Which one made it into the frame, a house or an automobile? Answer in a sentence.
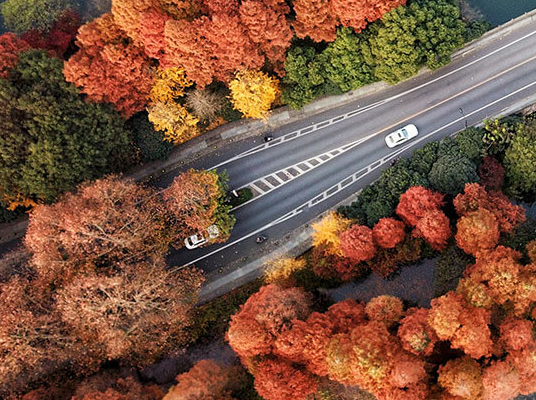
I can see an automobile in this picture.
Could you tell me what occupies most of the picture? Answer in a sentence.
The largest share of the image is taken up by trees.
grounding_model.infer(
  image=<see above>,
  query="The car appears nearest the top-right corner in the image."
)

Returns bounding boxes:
[384,124,418,146]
